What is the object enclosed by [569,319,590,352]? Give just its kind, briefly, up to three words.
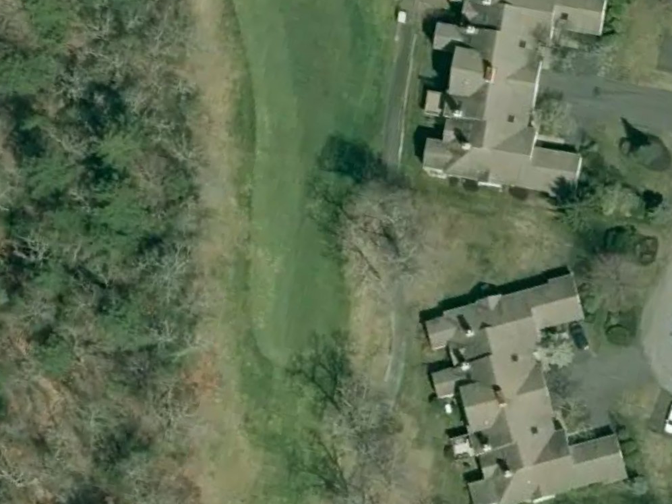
car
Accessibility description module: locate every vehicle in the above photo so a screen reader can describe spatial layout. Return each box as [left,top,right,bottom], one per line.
[569,319,590,352]
[397,8,407,25]
[665,403,672,434]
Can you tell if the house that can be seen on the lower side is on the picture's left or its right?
right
